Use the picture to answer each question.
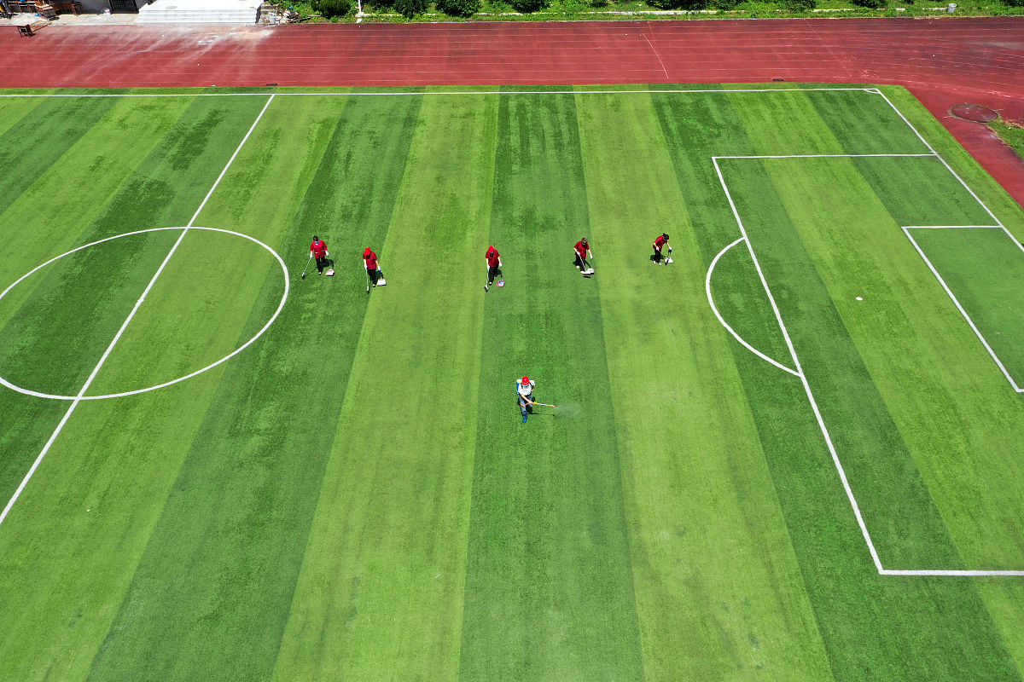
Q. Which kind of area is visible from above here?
sports ground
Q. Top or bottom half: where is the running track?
top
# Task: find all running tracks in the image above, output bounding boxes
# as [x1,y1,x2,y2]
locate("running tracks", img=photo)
[0,15,1024,210]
